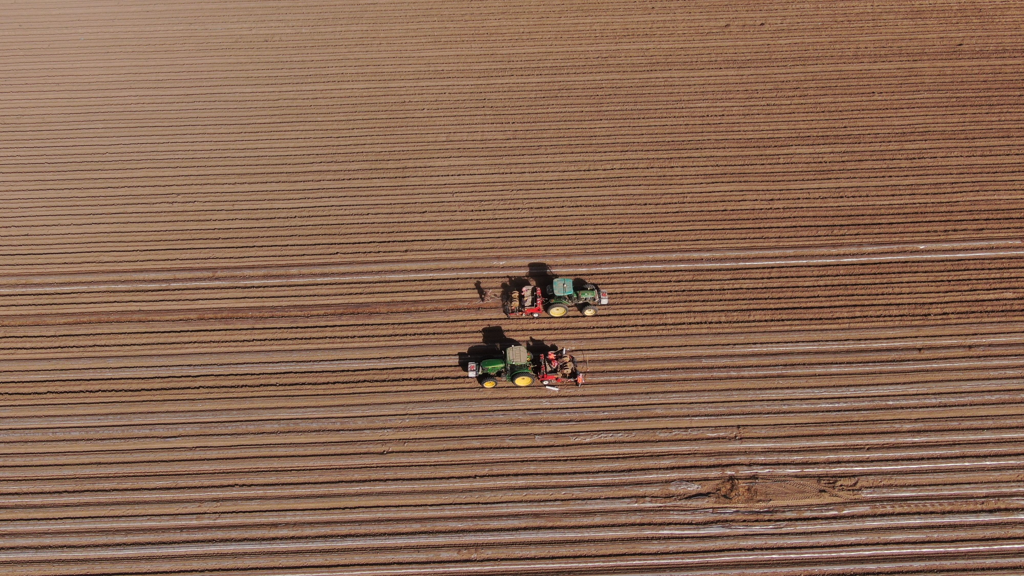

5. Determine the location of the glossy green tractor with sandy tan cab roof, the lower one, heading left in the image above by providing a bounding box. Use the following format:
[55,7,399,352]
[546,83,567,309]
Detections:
[468,344,538,388]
